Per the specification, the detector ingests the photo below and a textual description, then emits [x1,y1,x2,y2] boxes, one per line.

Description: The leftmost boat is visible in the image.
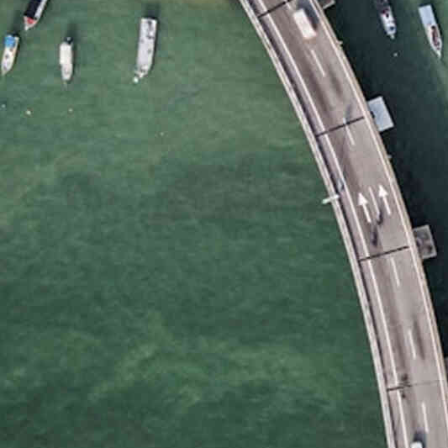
[0,32,20,85]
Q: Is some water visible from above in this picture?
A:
Yes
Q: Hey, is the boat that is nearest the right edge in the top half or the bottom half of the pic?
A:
top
